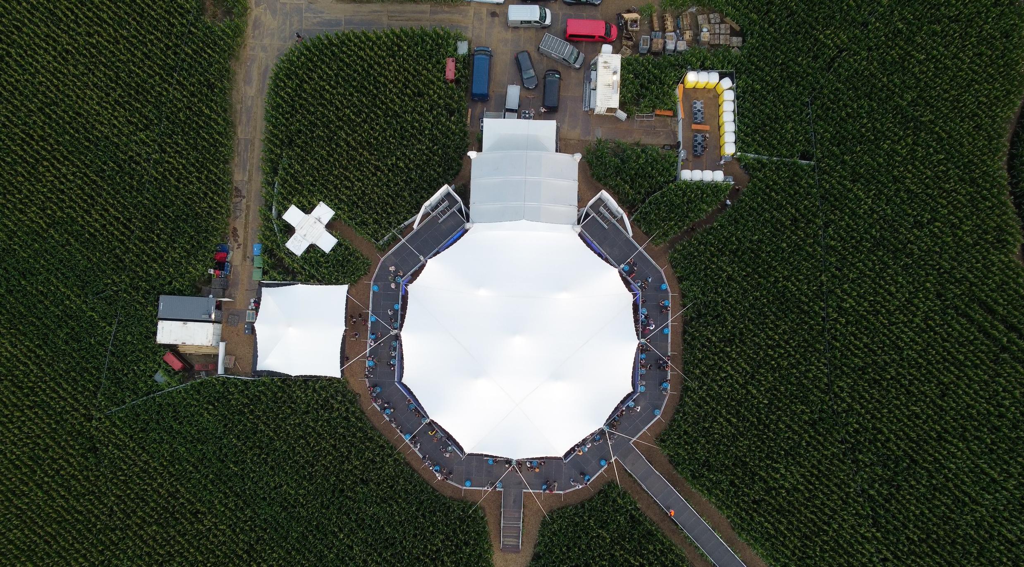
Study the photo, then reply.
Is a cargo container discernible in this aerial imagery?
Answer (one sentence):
Yes, a cargo container appears in the view.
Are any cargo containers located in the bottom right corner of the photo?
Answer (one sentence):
No, no cargo container is visible in the bottom right corner of the photo.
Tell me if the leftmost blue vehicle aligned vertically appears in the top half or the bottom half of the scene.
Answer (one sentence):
You can find the leftmost blue vehicle aligned vertically in the top half.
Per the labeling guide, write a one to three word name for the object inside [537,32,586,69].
van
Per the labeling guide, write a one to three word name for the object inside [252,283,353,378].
tent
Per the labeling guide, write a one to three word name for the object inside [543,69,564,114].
vehicle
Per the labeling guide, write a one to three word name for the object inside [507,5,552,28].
vehicle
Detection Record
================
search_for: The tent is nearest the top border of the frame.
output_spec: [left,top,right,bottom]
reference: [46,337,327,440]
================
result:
[482,113,557,154]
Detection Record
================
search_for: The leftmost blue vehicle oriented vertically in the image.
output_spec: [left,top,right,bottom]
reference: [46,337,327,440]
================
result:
[471,47,494,101]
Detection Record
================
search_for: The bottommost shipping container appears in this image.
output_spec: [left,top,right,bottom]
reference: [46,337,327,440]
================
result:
[156,320,222,346]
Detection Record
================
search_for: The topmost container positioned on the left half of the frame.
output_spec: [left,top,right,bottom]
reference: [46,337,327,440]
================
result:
[158,295,234,322]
